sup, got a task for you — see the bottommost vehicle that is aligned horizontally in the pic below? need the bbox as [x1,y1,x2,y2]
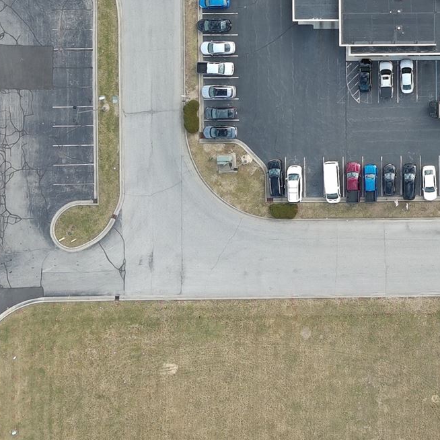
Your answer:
[203,124,239,141]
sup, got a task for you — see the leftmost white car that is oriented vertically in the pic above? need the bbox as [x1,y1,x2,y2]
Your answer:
[285,164,303,202]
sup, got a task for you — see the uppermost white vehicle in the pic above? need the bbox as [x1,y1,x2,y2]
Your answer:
[201,40,237,57]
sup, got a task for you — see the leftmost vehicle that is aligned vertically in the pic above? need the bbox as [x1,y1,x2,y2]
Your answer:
[265,160,284,199]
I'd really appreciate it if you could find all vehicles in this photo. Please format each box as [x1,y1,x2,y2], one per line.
[265,160,284,199]
[206,105,239,122]
[381,163,397,196]
[400,59,415,95]
[200,0,232,11]
[203,124,239,141]
[380,60,394,98]
[198,60,235,77]
[285,164,303,202]
[322,160,342,203]
[202,84,238,101]
[401,162,418,201]
[362,163,378,203]
[421,164,439,201]
[357,59,374,95]
[198,18,233,34]
[201,40,237,57]
[344,161,362,203]
[427,103,440,123]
